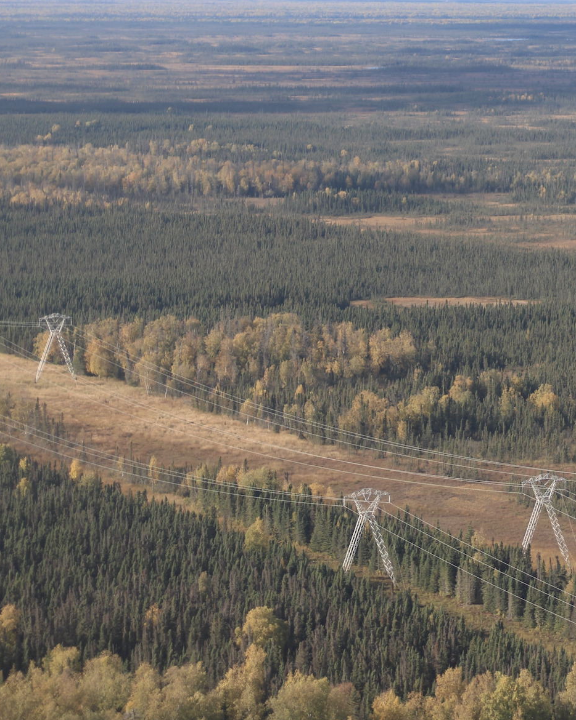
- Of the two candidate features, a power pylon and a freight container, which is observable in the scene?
power pylon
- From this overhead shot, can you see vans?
No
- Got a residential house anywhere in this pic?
No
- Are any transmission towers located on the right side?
Yes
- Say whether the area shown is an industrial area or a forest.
forest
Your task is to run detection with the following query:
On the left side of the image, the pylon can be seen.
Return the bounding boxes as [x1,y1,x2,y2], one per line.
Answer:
[37,313,77,382]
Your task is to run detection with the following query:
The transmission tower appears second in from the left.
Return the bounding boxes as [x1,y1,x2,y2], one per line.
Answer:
[335,485,406,585]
